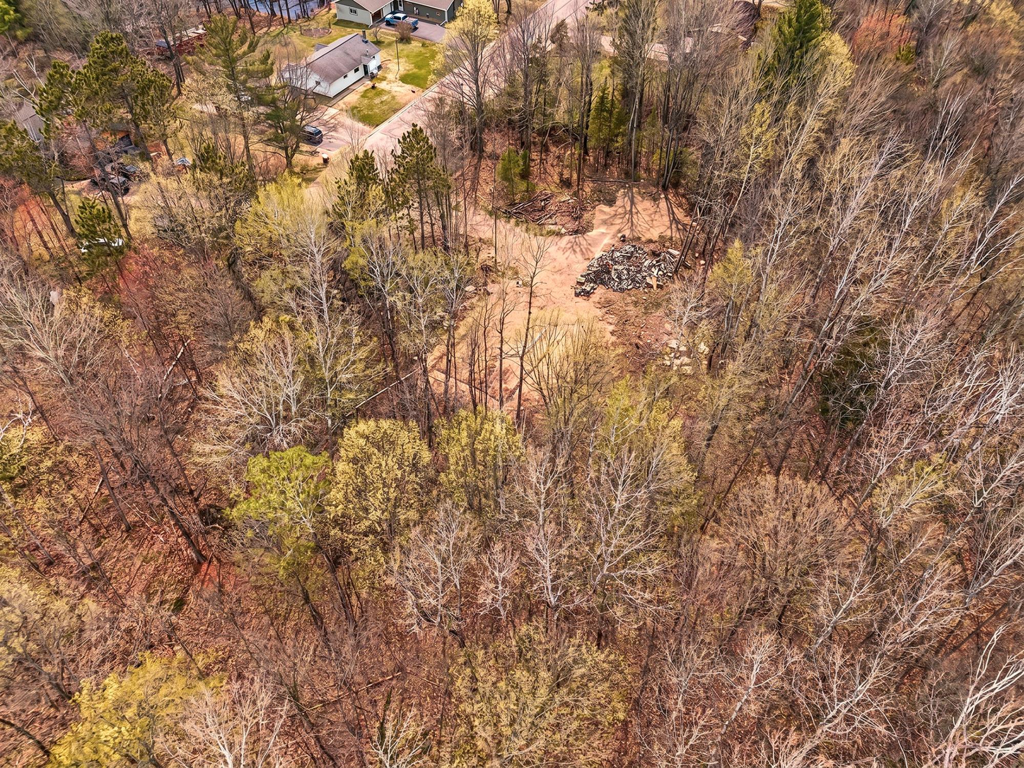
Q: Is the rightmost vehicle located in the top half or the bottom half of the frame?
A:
top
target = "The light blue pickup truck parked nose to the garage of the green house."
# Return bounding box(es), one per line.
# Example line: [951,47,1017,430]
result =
[385,10,422,30]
